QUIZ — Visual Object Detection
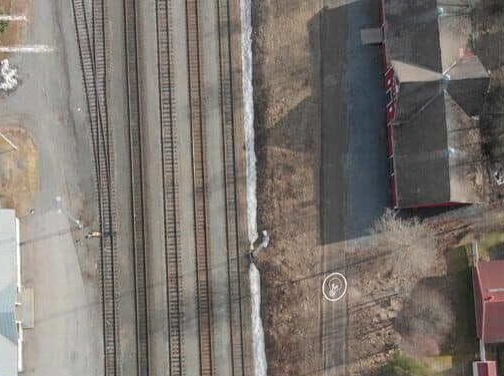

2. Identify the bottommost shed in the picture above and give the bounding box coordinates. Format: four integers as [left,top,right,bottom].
[471,361,497,376]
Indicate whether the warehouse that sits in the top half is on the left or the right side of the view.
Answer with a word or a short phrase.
right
